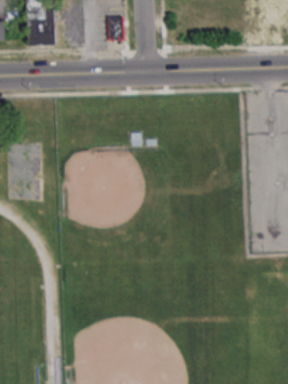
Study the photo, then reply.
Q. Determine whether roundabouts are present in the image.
No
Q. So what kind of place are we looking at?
sports ground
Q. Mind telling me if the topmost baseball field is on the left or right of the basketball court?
on the right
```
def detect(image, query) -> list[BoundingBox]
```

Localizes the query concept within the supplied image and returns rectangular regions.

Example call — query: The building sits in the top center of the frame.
[106,15,126,40]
